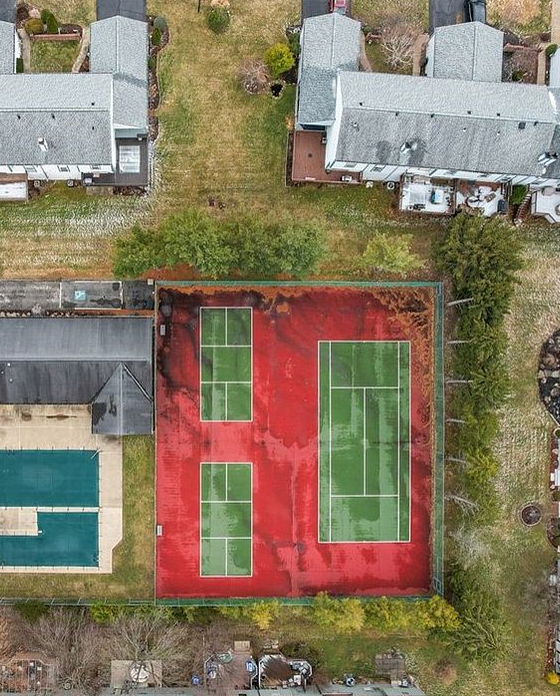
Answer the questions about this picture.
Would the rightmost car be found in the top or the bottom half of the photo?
top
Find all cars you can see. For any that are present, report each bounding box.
[463,0,487,23]
[328,0,348,16]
